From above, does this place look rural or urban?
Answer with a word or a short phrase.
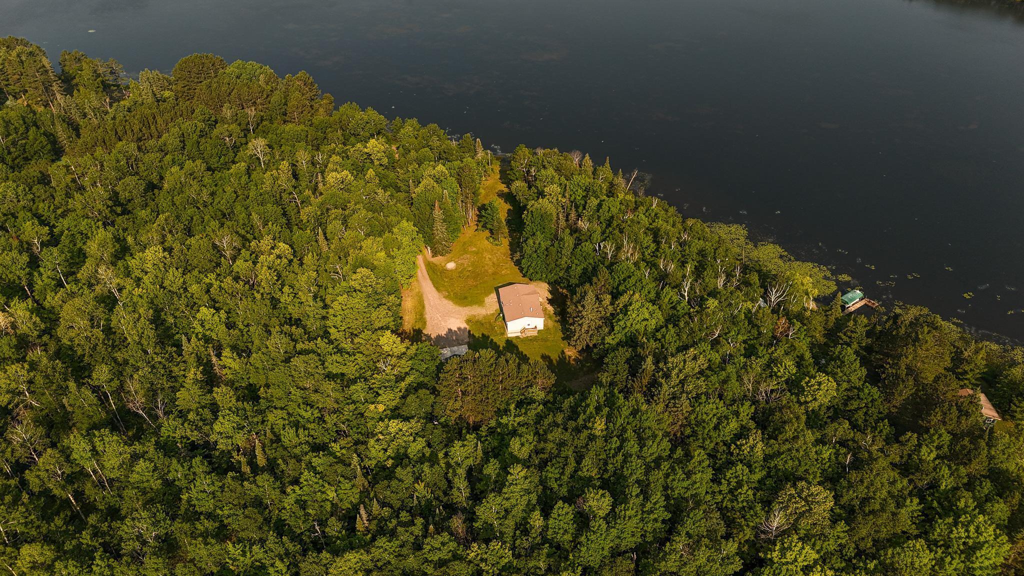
rural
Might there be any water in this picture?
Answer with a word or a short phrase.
Yes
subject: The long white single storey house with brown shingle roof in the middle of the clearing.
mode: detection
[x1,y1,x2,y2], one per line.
[495,283,546,340]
